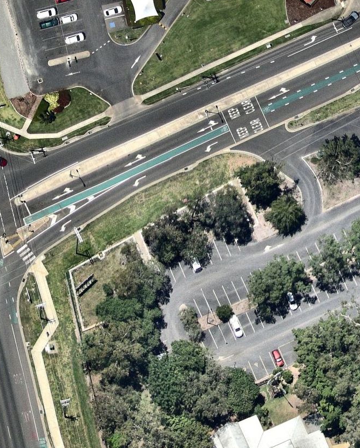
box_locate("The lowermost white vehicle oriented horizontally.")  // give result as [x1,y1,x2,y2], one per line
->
[65,32,86,44]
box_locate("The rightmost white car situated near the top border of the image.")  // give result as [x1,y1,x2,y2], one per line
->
[103,4,123,16]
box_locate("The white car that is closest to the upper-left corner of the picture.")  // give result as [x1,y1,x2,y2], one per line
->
[36,7,57,19]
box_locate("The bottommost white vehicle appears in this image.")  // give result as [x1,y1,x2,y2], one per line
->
[231,316,244,337]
